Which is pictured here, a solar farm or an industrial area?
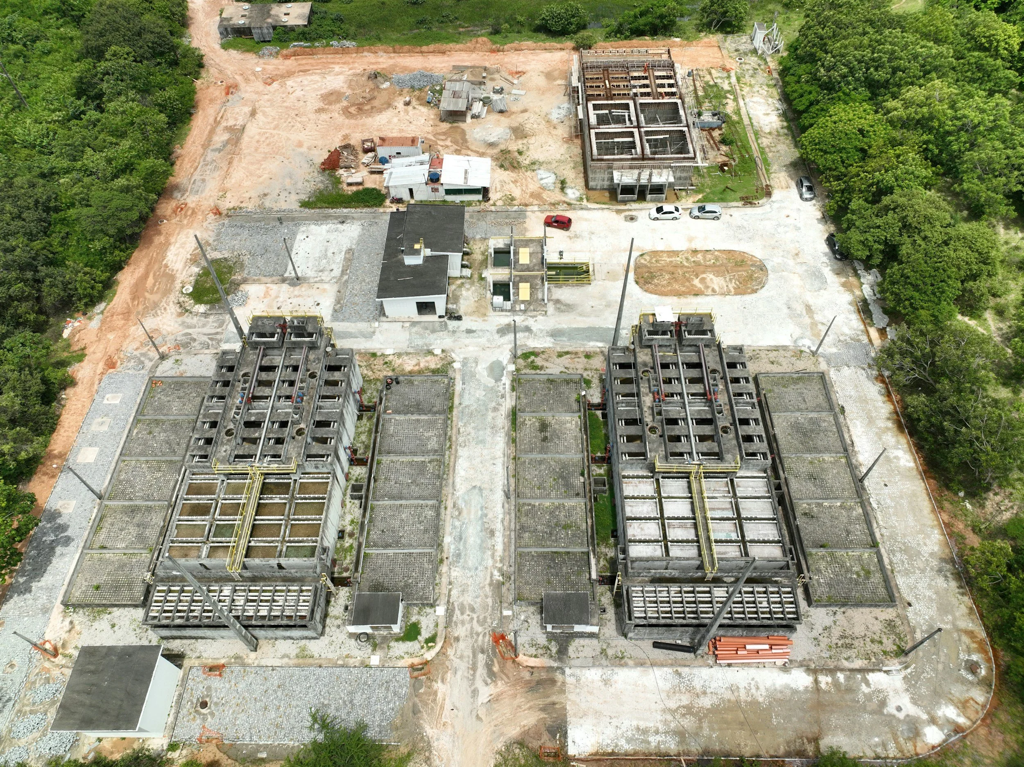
industrial area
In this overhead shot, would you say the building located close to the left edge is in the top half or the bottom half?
bottom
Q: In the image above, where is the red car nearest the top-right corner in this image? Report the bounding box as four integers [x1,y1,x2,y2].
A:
[543,212,573,230]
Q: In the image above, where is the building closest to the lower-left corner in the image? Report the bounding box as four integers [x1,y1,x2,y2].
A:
[51,645,181,737]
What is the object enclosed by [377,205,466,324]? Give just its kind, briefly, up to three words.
building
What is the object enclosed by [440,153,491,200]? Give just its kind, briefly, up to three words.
building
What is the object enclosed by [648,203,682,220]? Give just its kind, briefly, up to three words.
car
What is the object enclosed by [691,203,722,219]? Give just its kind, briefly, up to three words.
car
